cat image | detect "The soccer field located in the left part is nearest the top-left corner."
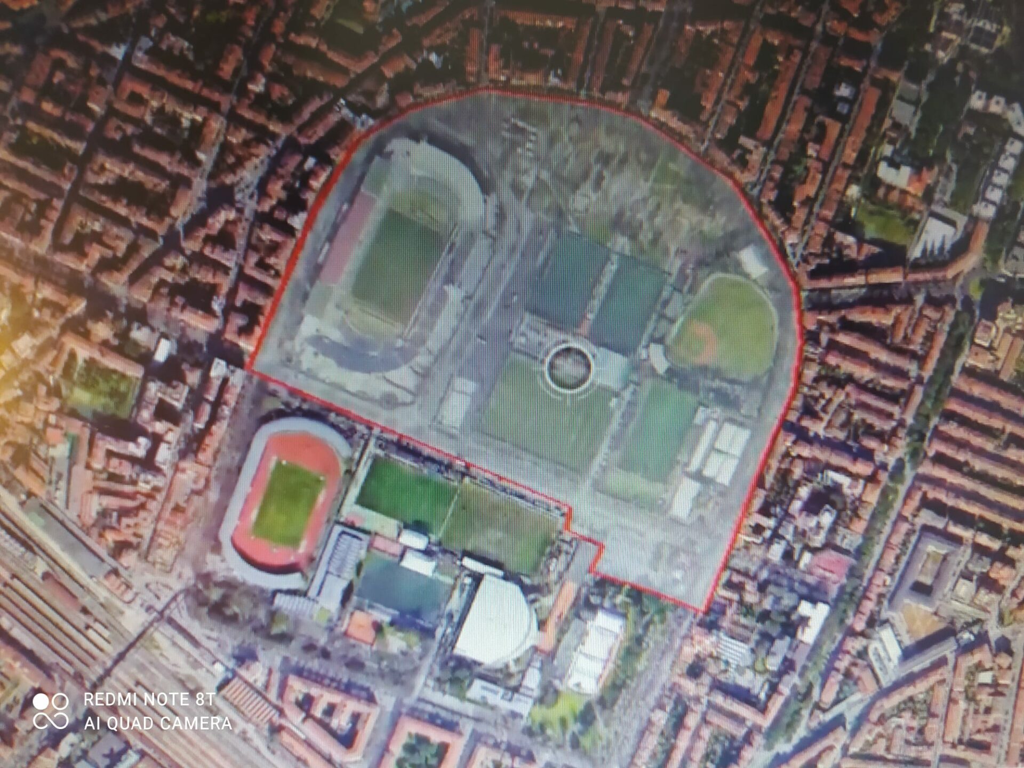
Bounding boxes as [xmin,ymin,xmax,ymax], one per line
[351,209,448,324]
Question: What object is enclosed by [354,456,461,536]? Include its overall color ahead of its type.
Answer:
green soccer field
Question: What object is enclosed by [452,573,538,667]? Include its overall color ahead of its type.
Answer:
white stadium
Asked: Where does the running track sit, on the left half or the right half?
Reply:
left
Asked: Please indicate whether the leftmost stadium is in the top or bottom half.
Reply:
bottom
